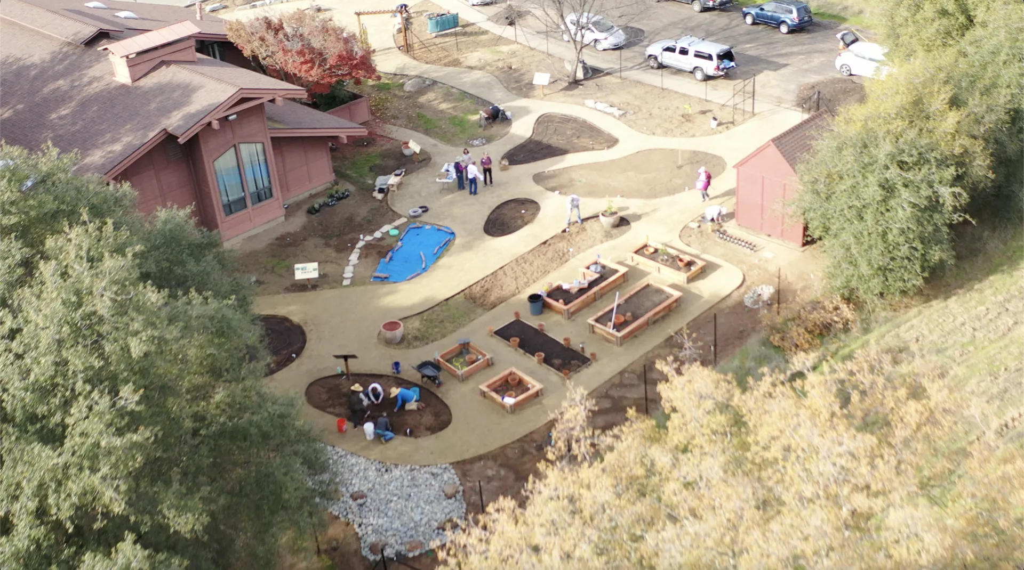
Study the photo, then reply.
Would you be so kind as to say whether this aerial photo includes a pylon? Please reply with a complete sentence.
No, this view has no pylon in it.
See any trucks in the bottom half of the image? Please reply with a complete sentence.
No, there's no truck to be seen in the bottom half of the image.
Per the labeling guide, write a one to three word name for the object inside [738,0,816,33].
car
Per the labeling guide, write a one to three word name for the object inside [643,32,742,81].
truck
